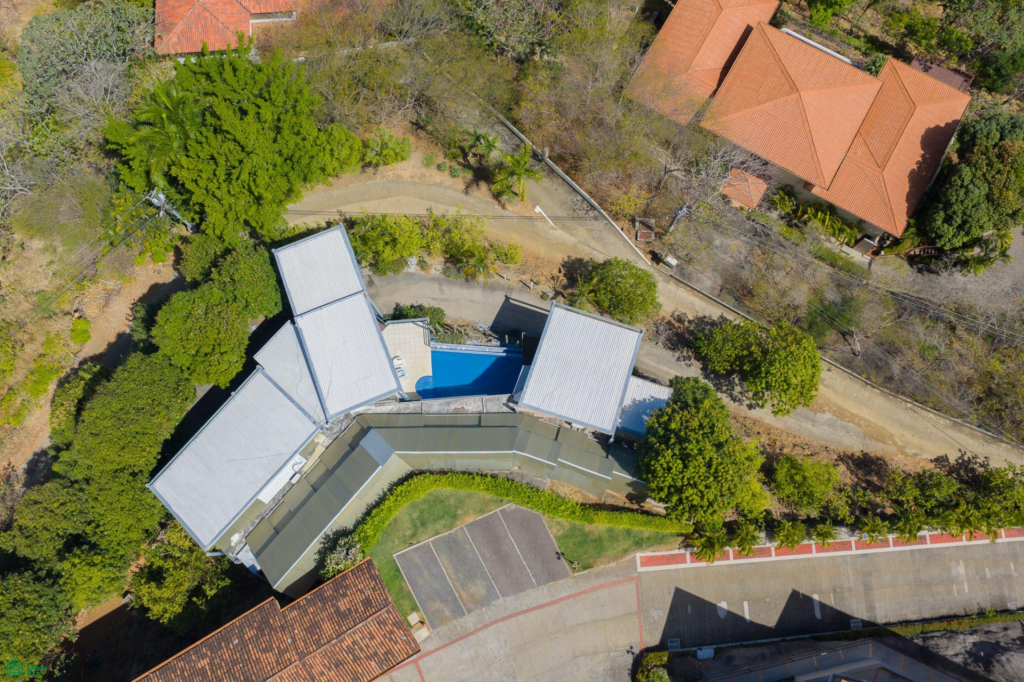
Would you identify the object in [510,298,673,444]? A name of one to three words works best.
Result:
building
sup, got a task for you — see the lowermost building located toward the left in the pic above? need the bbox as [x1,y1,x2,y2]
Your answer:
[128,558,420,682]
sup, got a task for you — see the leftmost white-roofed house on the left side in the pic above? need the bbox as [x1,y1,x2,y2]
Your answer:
[143,220,411,555]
